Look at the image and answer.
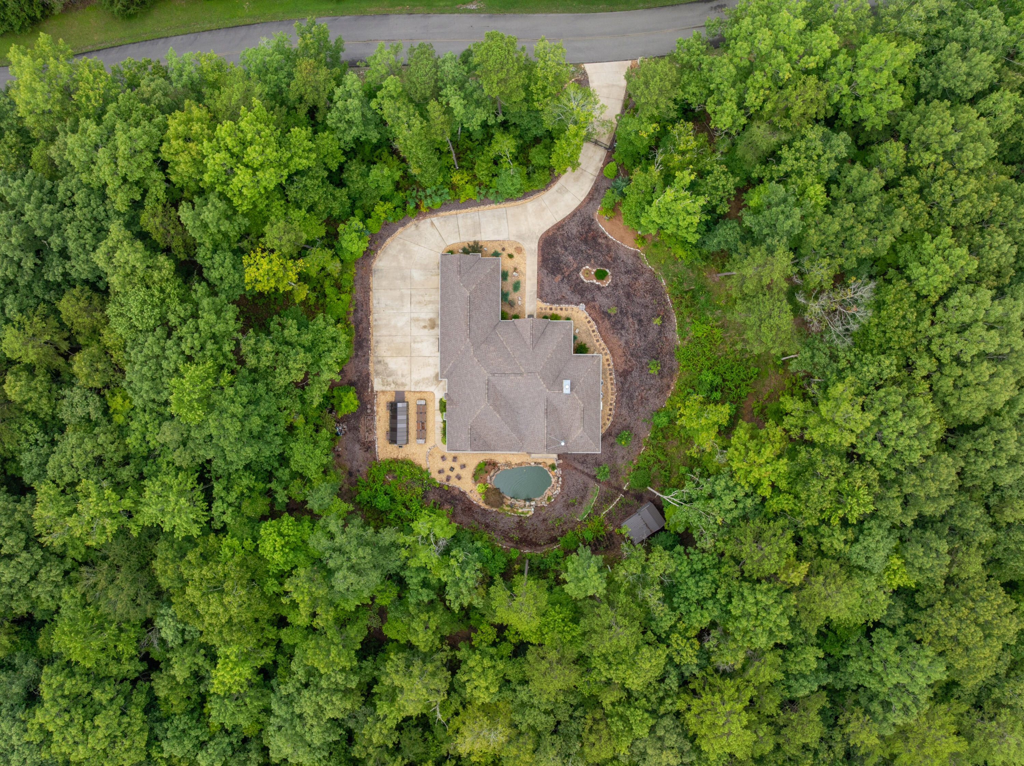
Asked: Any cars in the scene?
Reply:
No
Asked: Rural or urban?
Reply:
rural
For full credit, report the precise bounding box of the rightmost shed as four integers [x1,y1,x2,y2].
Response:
[621,501,661,545]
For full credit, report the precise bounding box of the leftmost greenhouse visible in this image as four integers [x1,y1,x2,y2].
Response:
[389,402,410,445]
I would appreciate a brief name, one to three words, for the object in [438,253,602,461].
house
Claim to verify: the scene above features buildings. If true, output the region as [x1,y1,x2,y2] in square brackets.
[438,253,602,461]
[389,402,410,445]
[621,501,661,545]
